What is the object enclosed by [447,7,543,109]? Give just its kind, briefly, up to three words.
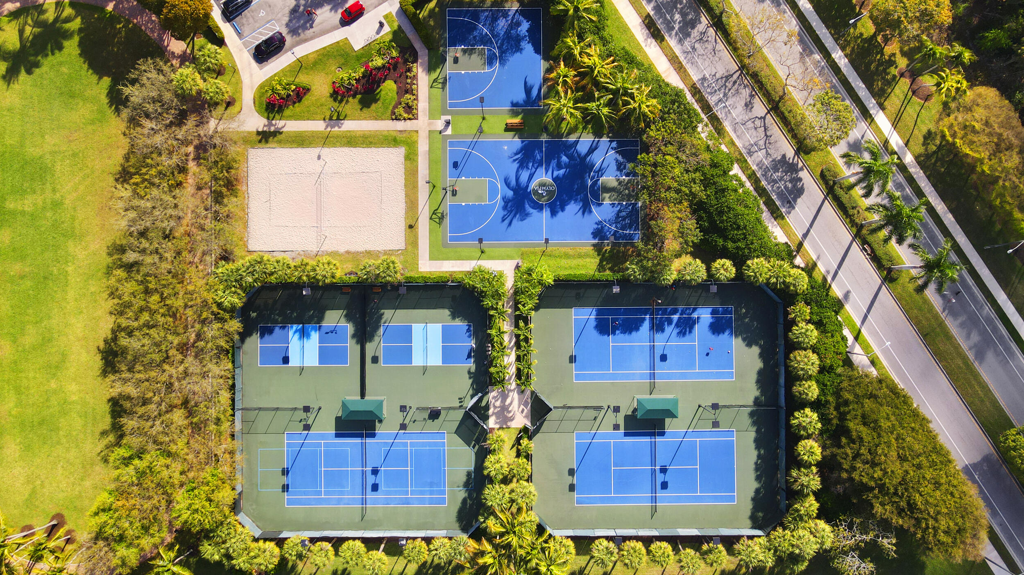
basketball court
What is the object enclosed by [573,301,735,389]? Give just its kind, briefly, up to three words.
tennis court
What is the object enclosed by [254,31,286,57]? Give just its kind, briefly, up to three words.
car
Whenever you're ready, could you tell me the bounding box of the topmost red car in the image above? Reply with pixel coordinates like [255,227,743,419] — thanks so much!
[341,0,369,23]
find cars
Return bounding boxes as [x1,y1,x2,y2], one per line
[341,0,369,23]
[254,31,286,57]
[221,0,255,18]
